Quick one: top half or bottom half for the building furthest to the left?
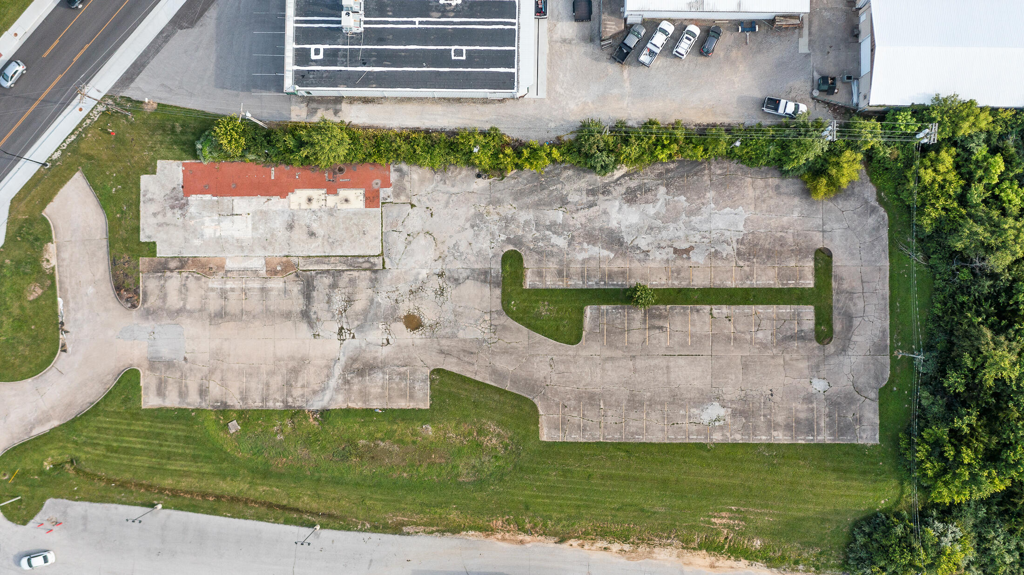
top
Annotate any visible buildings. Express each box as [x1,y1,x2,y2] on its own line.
[284,0,535,102]
[859,0,1024,115]
[624,0,810,19]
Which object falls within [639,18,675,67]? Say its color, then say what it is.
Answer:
white truck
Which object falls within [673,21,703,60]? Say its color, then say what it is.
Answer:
white car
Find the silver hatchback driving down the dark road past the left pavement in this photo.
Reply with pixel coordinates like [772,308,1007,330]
[0,58,26,88]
